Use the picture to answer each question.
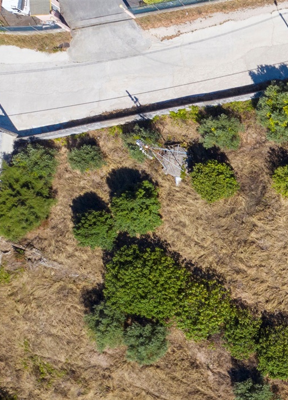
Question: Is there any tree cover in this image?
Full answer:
Yes, there's tree cover in this view.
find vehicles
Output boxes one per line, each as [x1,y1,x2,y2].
[0,0,32,24]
